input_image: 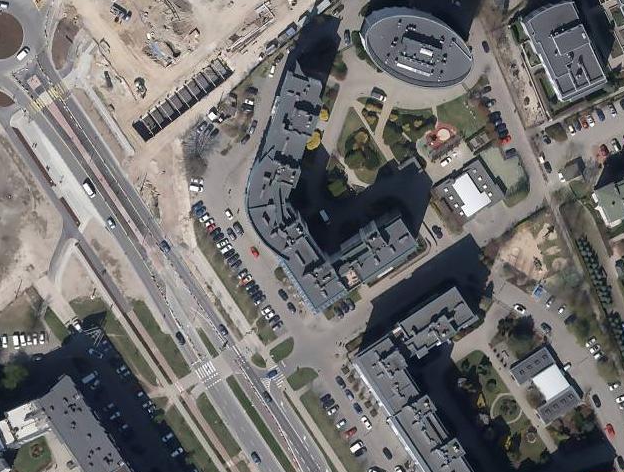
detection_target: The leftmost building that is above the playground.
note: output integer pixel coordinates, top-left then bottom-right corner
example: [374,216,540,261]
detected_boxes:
[361,1,474,88]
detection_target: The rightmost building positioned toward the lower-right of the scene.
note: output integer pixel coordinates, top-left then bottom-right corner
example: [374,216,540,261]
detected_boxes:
[511,347,581,424]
